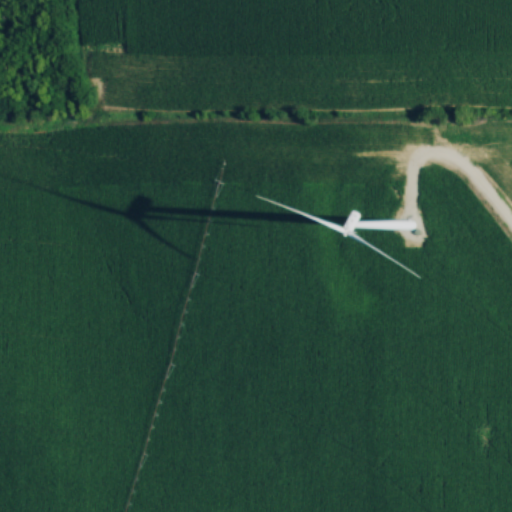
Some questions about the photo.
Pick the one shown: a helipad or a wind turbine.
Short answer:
wind turbine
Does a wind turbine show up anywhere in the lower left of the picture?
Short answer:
No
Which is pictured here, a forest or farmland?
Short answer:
farmland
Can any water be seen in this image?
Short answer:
No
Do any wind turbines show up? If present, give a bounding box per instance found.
[262,195,424,279]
